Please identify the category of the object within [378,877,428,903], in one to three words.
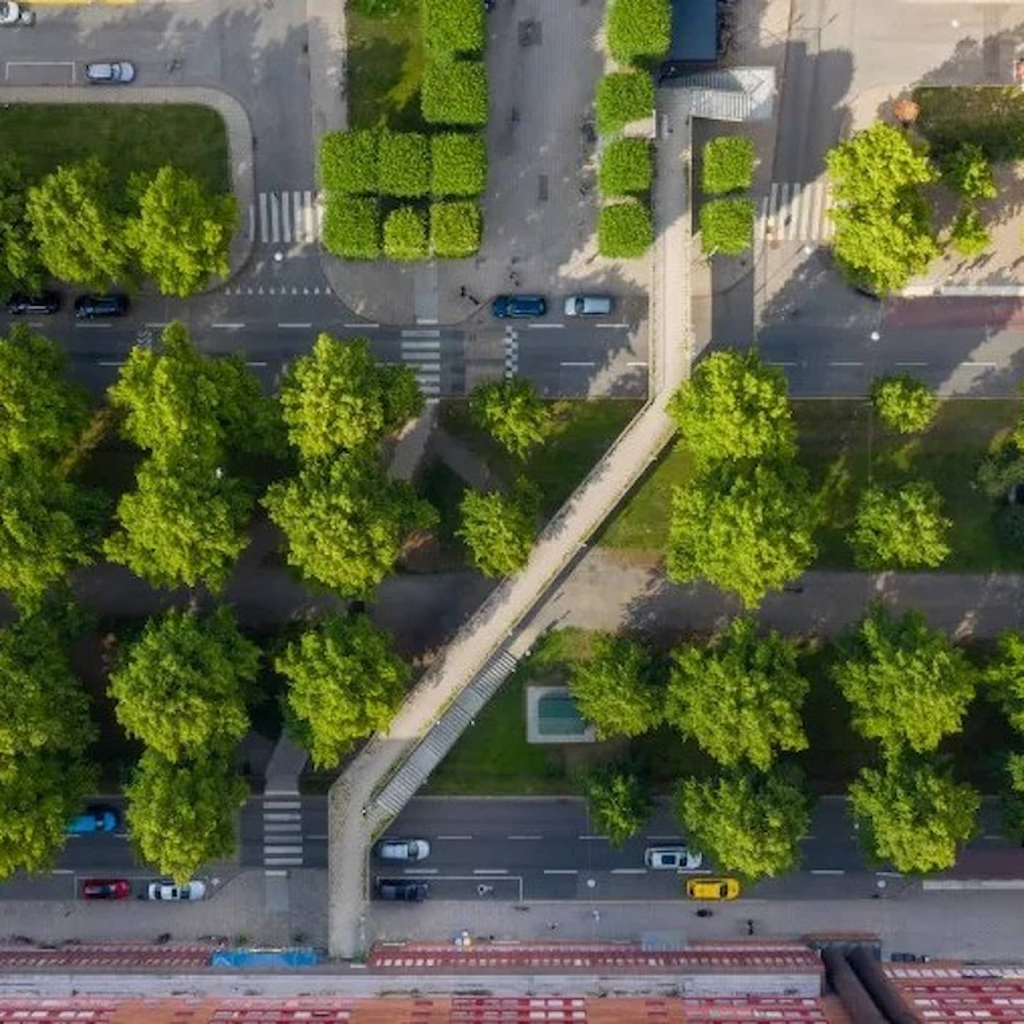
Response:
car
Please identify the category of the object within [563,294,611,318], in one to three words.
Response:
vehicle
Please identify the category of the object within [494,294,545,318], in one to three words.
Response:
car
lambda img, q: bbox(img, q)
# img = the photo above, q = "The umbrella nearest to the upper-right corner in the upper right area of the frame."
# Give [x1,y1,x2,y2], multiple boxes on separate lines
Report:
[894,100,919,125]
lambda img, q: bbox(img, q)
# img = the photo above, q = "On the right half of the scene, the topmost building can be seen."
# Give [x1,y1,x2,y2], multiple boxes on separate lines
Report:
[670,0,716,72]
